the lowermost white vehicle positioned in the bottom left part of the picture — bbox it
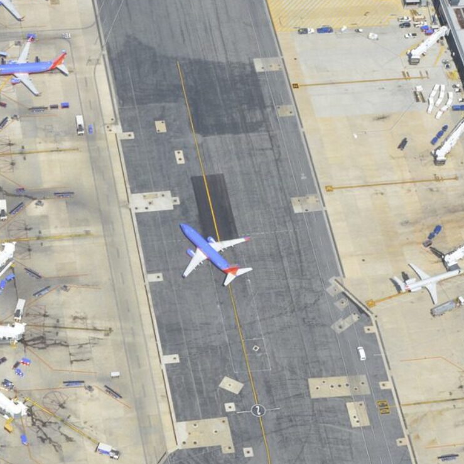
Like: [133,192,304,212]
[94,439,120,458]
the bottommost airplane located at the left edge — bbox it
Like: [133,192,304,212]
[0,34,68,98]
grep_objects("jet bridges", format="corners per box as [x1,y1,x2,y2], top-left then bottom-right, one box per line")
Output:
[0,390,32,420]
[436,124,464,167]
[446,246,464,272]
[410,26,446,67]
[0,324,31,344]
[0,241,16,269]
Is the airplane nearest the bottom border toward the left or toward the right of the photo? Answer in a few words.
right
